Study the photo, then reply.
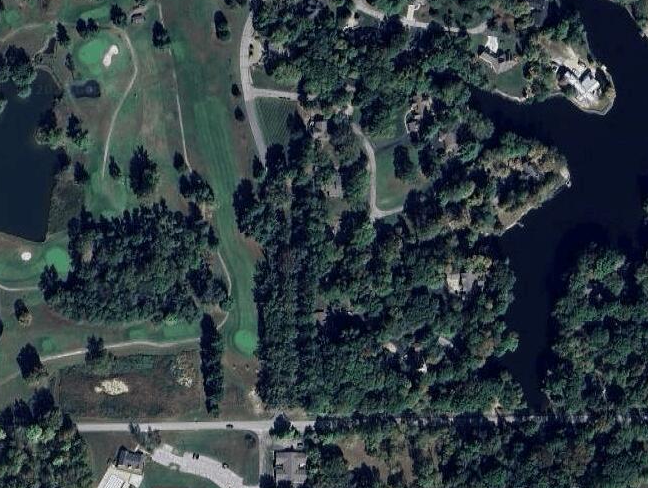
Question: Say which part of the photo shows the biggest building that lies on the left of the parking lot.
bottom left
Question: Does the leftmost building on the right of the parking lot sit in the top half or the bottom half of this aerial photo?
bottom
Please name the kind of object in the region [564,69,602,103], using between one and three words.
house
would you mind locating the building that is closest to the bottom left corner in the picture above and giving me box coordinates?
[114,448,147,473]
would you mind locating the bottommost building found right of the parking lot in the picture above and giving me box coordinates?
[276,452,307,484]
